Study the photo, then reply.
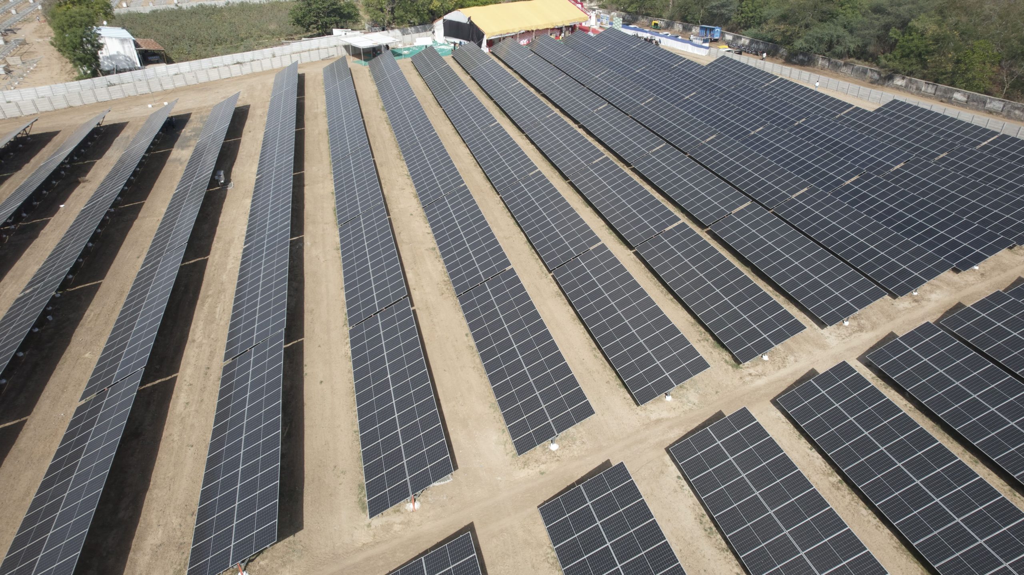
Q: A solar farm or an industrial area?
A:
solar farm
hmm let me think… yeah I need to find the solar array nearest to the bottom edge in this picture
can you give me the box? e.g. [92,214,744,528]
[392,532,479,575]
